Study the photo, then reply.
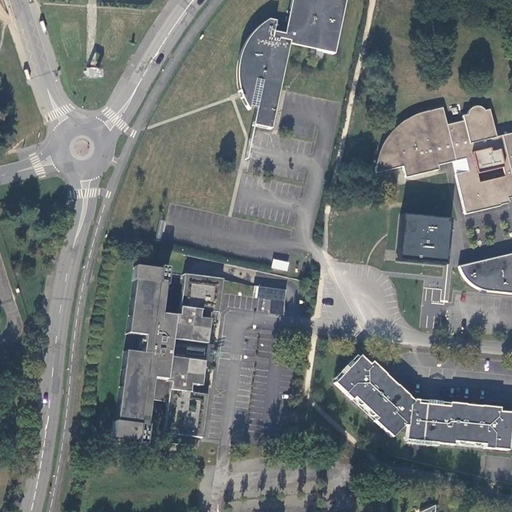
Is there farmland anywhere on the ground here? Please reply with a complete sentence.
No, there's no farmland in this view.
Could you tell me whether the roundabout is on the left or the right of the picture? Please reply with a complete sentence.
The roundabout sits on the left side.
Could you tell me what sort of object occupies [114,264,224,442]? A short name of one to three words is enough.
building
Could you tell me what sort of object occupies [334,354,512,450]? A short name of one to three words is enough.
building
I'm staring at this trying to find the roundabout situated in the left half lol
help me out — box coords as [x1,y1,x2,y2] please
[18,104,126,189]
